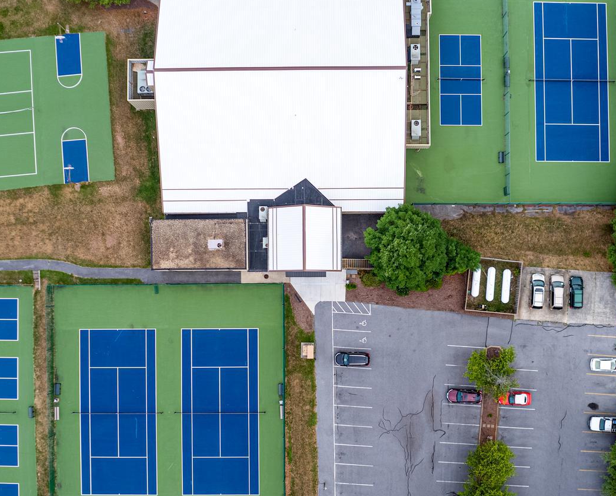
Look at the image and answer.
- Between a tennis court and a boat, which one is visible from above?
tennis court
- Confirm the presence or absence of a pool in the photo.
No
